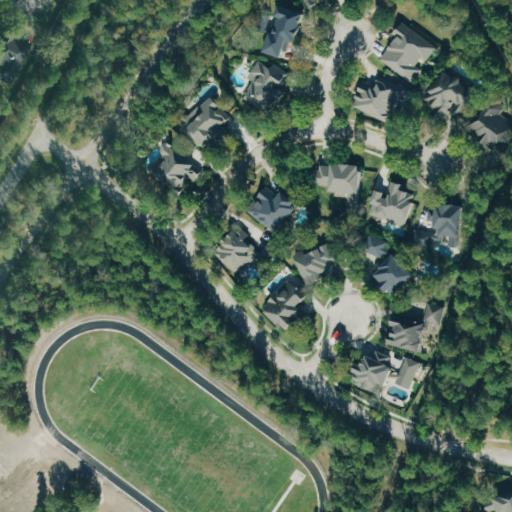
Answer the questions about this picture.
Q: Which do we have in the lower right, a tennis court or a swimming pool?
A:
swimming pool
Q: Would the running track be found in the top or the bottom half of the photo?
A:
bottom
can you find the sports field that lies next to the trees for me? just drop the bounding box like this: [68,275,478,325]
[45,330,316,512]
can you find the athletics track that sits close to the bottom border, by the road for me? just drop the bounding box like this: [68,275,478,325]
[32,317,330,512]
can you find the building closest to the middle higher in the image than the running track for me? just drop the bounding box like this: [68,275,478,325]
[215,225,255,276]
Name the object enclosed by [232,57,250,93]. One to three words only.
swimming pool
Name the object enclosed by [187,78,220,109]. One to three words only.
swimming pool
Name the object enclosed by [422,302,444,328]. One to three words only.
building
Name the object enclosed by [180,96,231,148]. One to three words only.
house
